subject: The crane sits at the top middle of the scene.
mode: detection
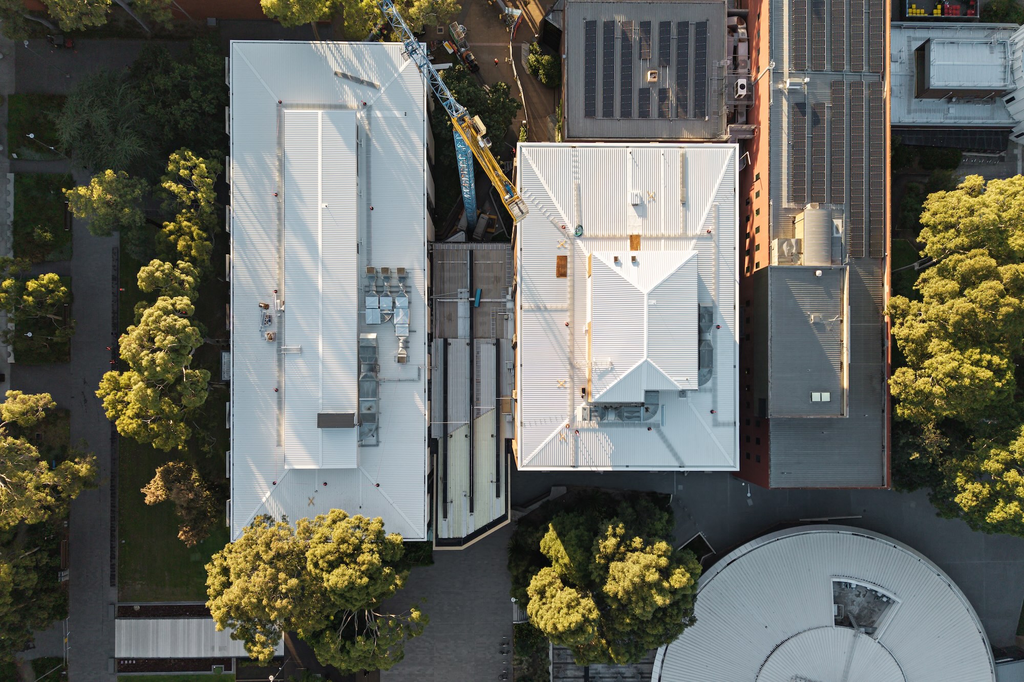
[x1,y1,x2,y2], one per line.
[376,0,532,237]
